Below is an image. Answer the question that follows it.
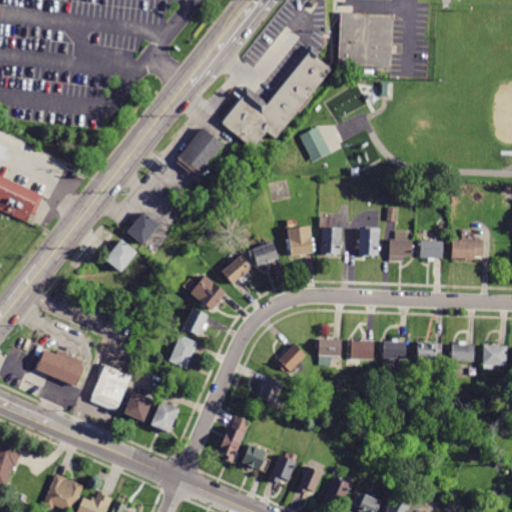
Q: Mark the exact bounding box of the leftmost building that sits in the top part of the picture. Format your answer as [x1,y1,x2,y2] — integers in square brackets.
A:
[0,176,42,222]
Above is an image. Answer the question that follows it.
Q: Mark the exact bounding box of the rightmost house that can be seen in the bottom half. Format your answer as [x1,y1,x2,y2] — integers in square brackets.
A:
[484,345,508,370]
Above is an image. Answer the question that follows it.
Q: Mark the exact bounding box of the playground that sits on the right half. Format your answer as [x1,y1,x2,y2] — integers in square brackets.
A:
[342,131,382,167]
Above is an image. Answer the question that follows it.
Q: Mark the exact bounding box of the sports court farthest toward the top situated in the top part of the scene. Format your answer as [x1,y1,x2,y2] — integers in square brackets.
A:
[325,86,367,124]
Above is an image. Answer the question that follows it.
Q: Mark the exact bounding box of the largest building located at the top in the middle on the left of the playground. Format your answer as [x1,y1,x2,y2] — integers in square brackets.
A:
[223,54,331,146]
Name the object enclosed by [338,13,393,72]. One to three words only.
building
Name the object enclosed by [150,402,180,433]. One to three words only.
house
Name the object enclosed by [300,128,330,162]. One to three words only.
shed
